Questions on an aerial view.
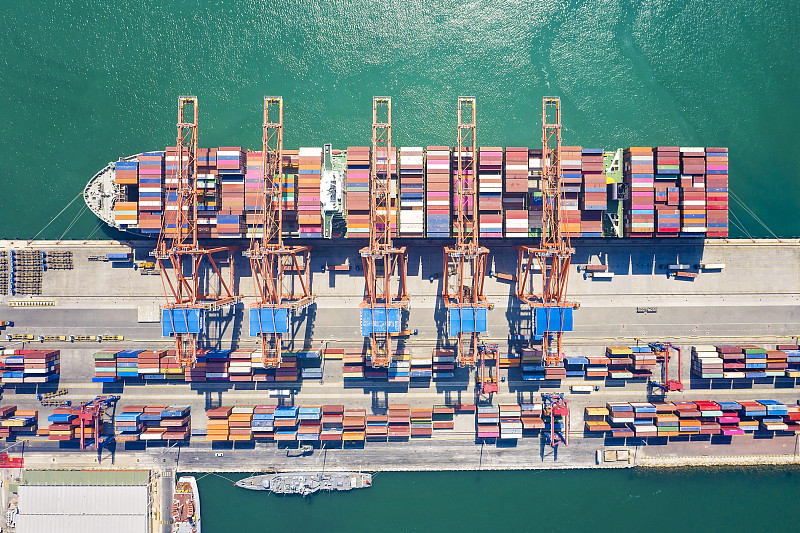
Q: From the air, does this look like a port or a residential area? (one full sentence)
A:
This looks like a port.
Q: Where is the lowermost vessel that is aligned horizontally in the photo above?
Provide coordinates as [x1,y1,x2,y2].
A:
[234,462,373,499]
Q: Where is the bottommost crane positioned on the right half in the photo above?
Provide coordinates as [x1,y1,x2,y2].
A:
[541,392,569,448]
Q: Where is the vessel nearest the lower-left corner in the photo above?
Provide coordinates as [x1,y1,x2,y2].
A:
[170,471,204,533]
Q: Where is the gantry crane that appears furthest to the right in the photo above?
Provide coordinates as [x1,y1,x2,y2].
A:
[648,338,683,392]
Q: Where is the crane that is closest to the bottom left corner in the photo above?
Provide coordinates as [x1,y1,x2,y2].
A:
[81,393,123,449]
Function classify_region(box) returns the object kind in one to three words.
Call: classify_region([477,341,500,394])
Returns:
container crane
